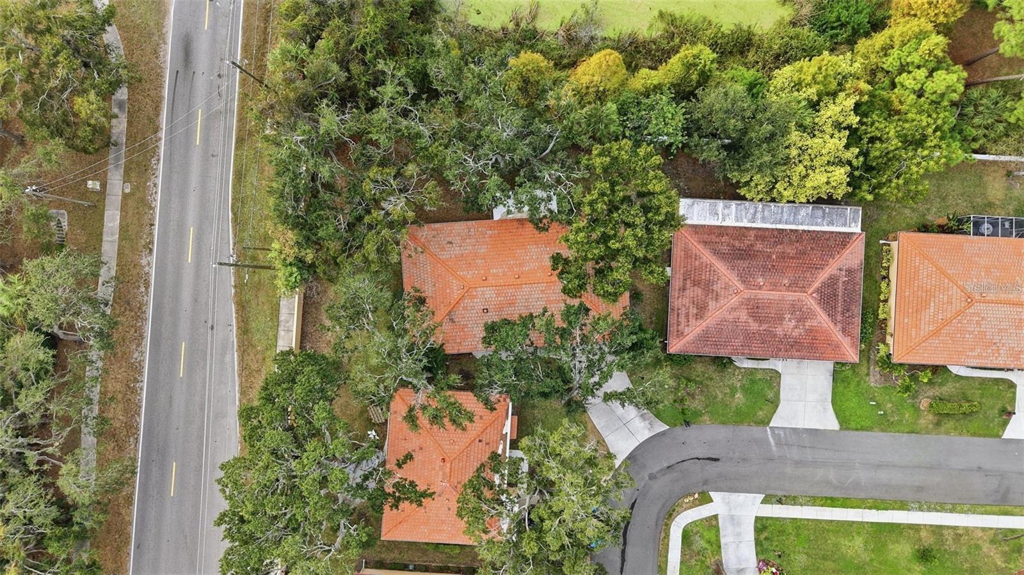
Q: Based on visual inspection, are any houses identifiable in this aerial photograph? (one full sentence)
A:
Yes, the picture does show a house.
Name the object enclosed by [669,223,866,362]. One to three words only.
house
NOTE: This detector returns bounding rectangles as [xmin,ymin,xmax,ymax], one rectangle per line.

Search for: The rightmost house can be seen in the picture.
[884,230,1024,370]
